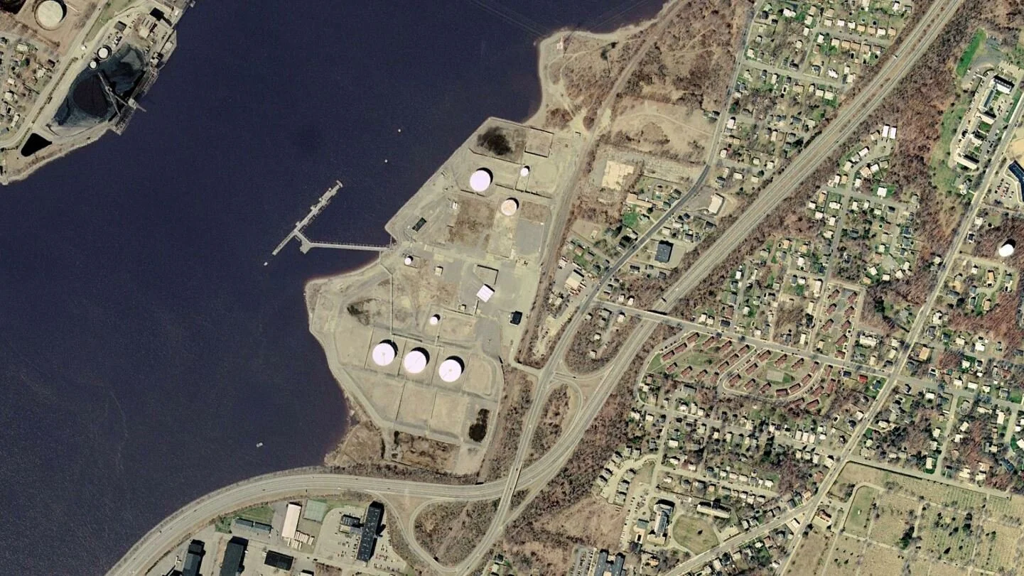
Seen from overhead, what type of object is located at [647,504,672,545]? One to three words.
building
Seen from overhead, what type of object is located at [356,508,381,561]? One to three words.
building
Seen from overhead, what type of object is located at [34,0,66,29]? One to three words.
storage tank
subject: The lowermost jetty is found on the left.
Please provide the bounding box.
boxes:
[271,181,391,263]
